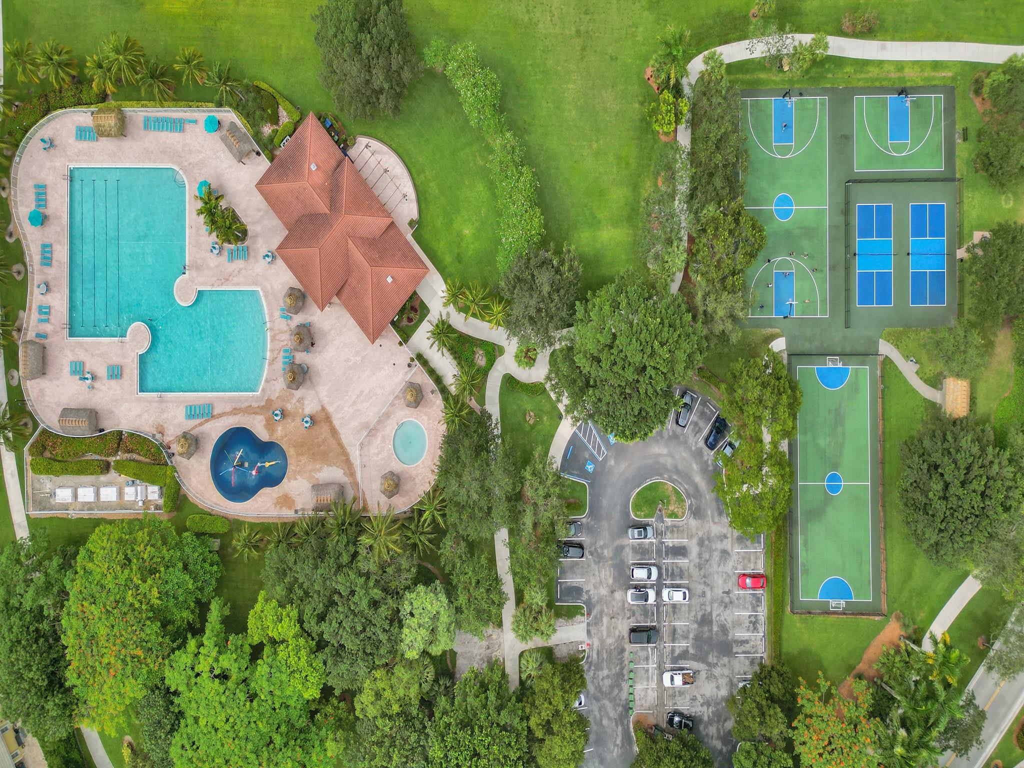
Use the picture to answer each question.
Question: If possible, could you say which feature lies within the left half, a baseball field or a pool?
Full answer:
Visible within the left half is a pool.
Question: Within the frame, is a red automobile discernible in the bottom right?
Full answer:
Yes, in the bottom right there is a red automobile.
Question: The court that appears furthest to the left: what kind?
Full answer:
I'd identify the court that appears furthest to the left as a basketball court.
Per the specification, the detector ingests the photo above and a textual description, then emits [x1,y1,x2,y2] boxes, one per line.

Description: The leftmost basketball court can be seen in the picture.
[740,97,829,317]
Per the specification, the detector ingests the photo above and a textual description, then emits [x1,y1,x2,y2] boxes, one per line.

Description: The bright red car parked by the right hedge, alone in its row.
[737,573,766,590]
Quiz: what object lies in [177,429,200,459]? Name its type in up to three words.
umbrella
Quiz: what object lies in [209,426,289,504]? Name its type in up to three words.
swimming pool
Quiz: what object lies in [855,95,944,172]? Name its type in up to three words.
basketball court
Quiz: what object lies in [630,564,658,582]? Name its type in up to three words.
car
